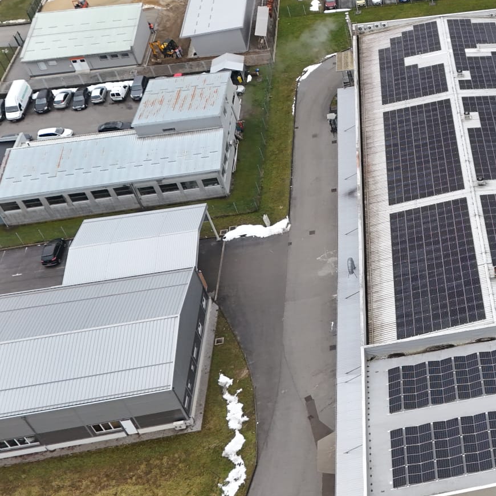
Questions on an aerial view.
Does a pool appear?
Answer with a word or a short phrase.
No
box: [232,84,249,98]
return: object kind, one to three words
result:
vehicle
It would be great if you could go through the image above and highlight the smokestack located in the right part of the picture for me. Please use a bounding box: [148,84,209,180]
[341,7,353,53]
